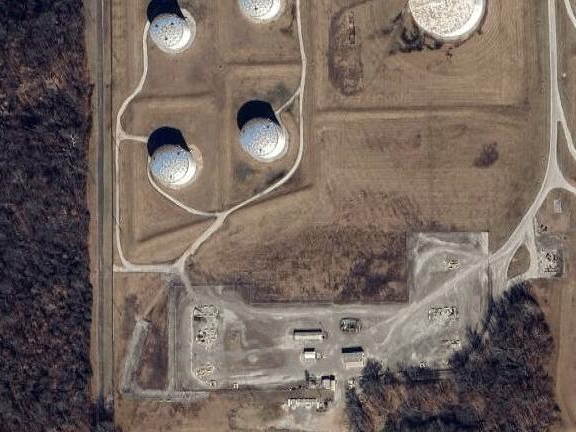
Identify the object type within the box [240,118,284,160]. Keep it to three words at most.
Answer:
storage tank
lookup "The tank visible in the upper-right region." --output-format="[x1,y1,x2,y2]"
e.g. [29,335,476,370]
[408,0,485,41]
